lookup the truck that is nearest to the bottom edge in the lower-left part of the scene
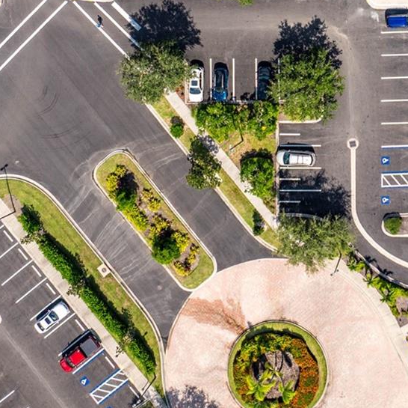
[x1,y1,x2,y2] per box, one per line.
[60,332,102,371]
